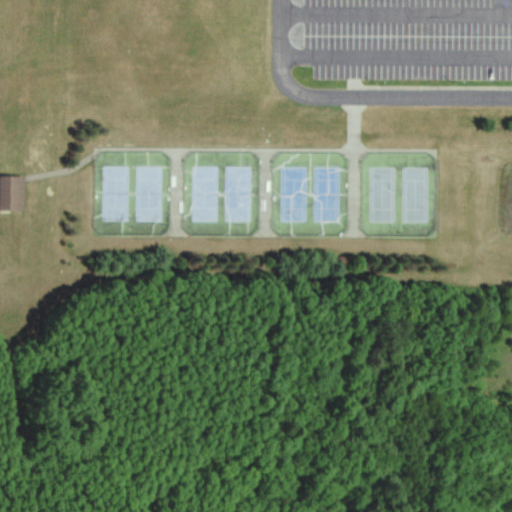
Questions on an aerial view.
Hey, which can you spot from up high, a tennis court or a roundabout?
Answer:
tennis court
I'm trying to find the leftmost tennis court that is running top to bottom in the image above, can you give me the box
[102,166,130,222]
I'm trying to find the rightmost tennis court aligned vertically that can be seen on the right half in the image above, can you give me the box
[402,168,428,223]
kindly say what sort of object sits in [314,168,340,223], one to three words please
tennis court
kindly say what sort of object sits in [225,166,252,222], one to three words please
tennis court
